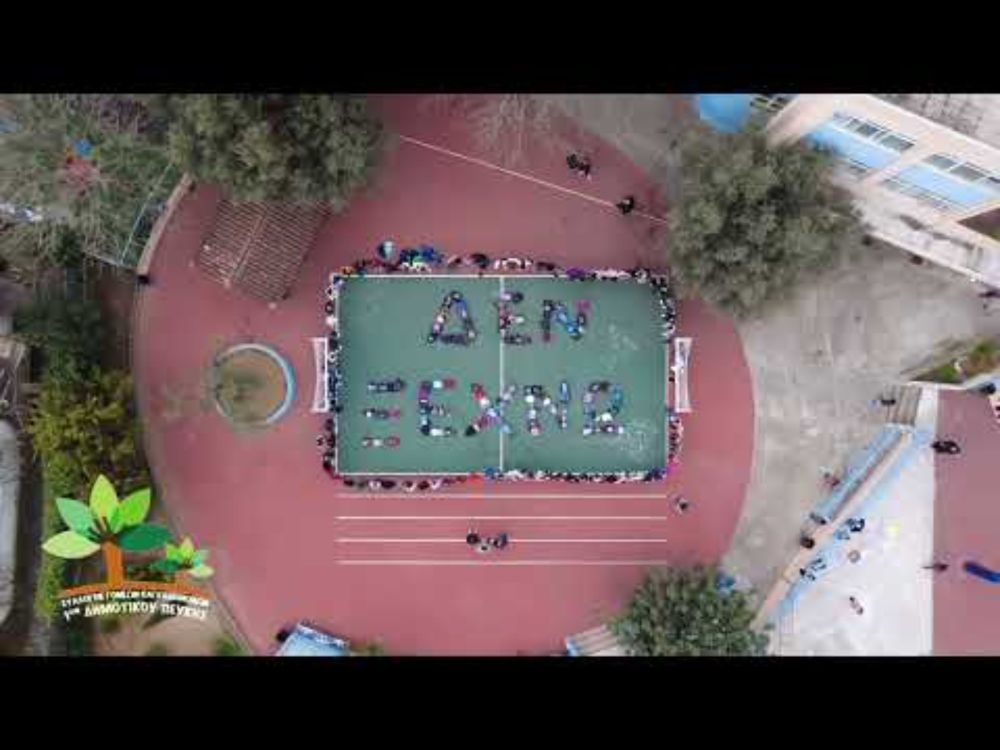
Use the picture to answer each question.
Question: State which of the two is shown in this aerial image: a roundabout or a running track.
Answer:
running track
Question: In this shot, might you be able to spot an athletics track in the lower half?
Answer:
Yes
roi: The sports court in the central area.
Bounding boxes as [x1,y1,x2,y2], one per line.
[337,273,668,476]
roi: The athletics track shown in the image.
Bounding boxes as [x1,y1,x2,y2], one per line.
[337,494,667,563]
